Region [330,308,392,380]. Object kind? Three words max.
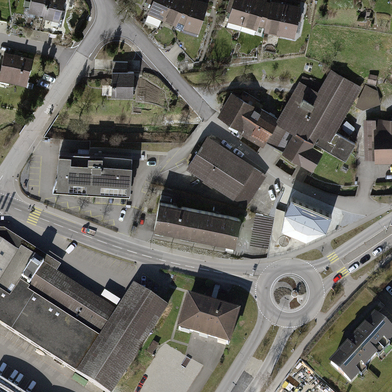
house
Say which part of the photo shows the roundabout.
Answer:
bottom right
